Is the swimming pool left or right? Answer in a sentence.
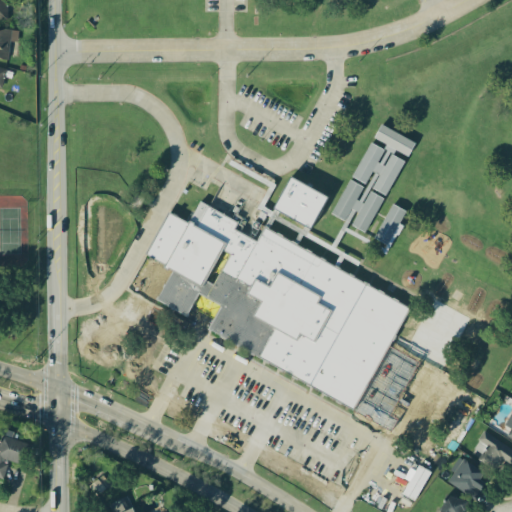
The swimming pool sits on the right side.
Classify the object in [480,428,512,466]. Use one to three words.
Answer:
house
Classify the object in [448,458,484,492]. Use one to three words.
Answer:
house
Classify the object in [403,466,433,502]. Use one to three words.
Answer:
building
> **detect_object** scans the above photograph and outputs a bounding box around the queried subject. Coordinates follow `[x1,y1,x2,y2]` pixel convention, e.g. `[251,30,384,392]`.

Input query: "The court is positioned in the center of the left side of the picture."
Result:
[0,196,28,268]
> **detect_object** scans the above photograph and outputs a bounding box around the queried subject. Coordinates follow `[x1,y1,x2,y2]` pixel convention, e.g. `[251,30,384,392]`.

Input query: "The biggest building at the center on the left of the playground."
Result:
[150,201,410,408]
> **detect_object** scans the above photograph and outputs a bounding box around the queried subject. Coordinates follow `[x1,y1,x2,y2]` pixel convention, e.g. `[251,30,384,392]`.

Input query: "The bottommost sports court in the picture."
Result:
[413,302,470,366]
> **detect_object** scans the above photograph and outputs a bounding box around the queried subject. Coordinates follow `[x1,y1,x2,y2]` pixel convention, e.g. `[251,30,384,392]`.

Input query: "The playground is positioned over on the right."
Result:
[410,232,452,269]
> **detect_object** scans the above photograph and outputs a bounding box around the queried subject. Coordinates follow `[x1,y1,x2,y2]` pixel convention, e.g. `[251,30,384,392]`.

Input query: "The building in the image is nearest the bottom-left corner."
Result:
[0,437,29,478]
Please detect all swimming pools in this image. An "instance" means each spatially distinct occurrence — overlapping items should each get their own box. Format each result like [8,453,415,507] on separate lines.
[490,397,512,436]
